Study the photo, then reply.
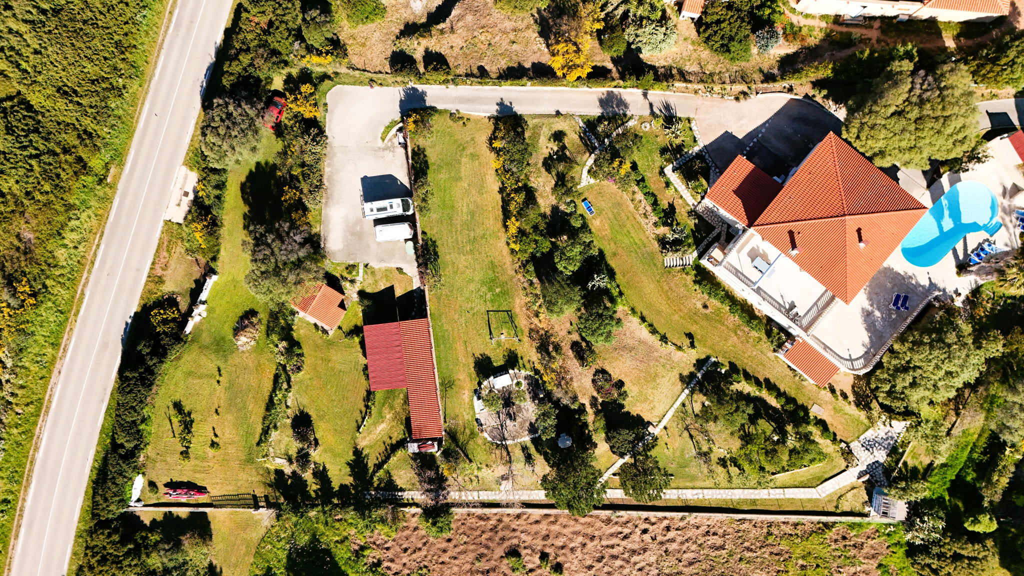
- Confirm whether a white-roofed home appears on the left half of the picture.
No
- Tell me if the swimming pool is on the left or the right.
right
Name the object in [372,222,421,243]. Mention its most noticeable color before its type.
white camper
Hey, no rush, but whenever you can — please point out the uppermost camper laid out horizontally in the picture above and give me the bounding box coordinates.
[357,195,416,222]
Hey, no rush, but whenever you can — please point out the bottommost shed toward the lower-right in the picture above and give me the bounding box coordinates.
[868,491,909,520]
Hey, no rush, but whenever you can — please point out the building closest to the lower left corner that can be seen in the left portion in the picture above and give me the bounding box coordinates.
[289,276,346,336]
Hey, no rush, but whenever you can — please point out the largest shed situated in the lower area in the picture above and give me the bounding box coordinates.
[363,319,444,439]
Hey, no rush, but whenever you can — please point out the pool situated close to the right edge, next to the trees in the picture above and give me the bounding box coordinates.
[899,179,1004,269]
